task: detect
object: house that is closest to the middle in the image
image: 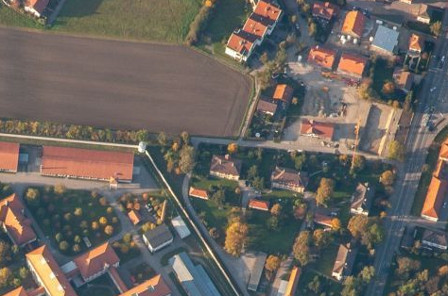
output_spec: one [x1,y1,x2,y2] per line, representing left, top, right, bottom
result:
[211,154,243,177]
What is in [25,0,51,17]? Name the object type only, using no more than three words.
house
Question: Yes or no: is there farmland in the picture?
Yes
